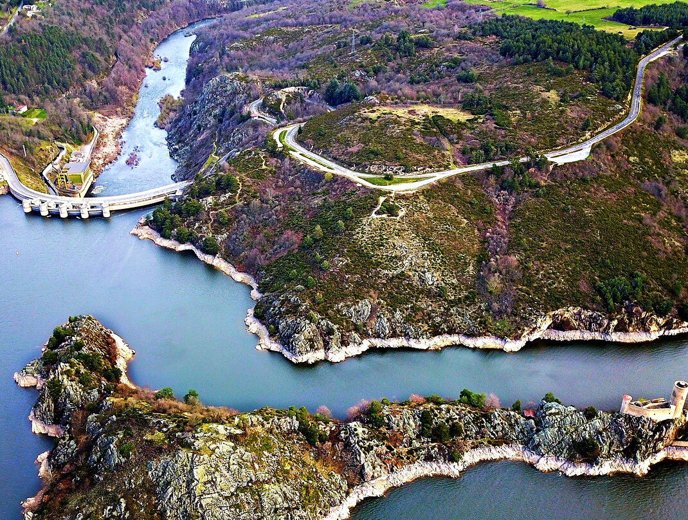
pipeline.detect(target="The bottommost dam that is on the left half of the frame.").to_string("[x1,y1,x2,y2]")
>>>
[6,180,194,218]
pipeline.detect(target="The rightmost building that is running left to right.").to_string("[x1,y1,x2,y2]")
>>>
[628,400,677,420]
